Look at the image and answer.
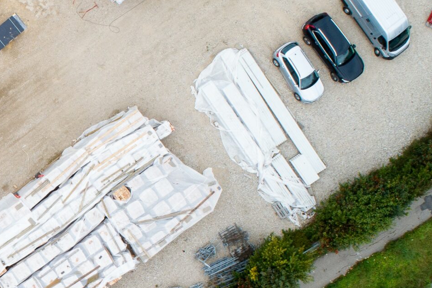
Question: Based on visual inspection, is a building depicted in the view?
No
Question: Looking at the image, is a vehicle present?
Yes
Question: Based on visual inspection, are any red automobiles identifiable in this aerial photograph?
No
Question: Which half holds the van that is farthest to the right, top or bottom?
top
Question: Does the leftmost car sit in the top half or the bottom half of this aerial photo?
top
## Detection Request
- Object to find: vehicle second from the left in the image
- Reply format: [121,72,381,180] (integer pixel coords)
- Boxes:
[304,11,367,87]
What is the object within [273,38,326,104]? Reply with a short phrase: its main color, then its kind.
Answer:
white car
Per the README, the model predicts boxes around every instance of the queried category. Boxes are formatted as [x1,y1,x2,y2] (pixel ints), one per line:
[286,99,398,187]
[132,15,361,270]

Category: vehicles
[345,0,417,65]
[304,11,367,87]
[273,38,326,104]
